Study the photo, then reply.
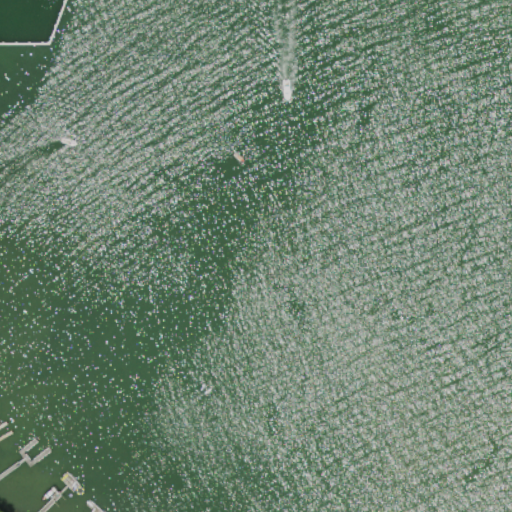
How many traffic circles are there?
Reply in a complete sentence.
The photo contains no traffic circles.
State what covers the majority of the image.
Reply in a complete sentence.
What you mostly see from above here is water.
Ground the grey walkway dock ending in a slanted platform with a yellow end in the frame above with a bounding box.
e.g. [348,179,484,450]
[34,471,84,512]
